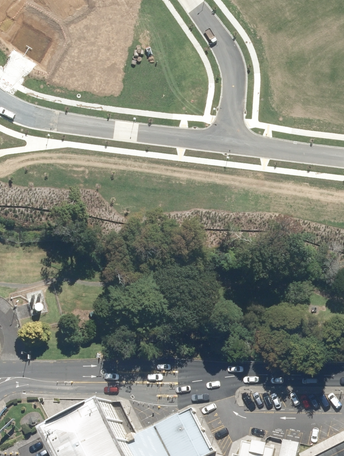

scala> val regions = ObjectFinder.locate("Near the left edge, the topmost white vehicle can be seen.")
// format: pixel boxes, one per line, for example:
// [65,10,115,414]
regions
[0,107,15,119]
